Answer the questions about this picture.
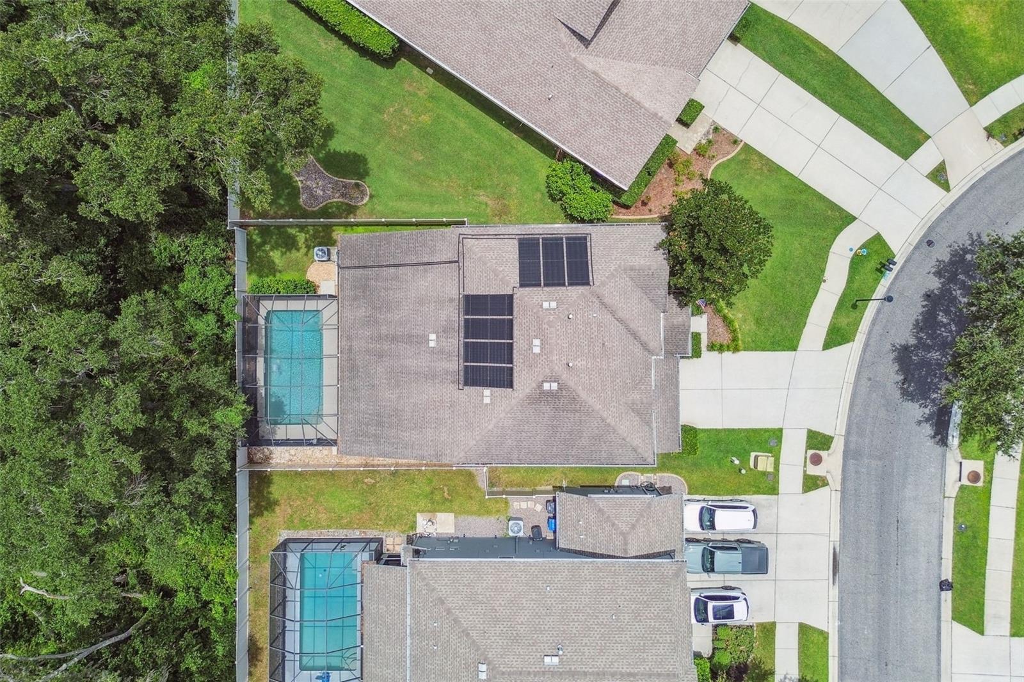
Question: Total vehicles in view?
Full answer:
There are 3 vehicles in the image.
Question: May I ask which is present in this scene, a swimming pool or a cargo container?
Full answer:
The image shows a swimming pool.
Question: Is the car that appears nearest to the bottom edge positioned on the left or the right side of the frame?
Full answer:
The car that appears nearest to the bottom edge sits on the right side.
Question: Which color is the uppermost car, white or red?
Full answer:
From above, the uppermost car appears white.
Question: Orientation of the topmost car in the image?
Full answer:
Seen from above, the topmost car lies from side to side.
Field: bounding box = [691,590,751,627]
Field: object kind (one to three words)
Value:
car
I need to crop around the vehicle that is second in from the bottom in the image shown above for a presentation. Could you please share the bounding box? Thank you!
[685,541,768,578]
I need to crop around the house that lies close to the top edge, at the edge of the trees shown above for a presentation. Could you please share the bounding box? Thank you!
[346,0,753,190]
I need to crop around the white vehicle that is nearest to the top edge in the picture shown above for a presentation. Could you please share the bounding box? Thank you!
[685,501,758,537]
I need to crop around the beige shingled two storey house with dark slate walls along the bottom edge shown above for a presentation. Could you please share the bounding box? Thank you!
[362,486,695,682]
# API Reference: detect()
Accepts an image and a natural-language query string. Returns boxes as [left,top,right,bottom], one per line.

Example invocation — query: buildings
[346,0,753,190]
[338,222,696,468]
[362,486,695,682]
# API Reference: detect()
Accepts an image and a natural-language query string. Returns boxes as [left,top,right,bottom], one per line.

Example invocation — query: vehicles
[685,501,758,537]
[685,541,768,578]
[691,590,751,627]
